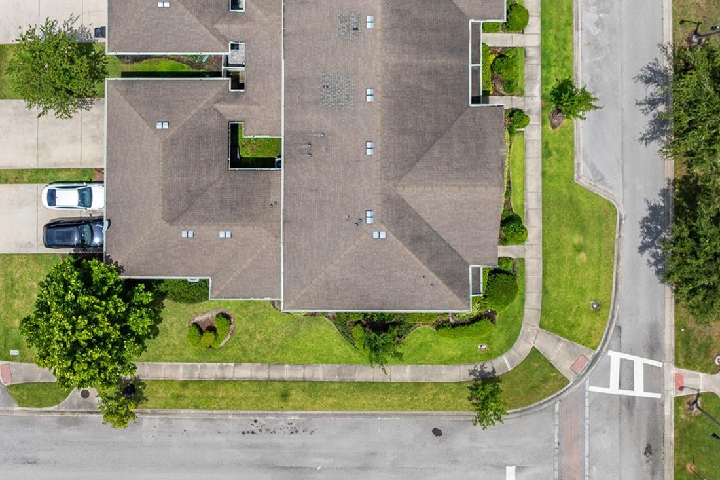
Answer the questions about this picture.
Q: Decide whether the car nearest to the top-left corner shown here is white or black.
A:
white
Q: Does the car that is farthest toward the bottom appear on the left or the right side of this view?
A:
left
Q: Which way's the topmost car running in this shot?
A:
horizontally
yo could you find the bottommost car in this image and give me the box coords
[43,216,106,250]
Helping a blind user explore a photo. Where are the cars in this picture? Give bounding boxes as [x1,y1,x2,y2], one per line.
[43,216,106,250]
[41,180,106,212]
